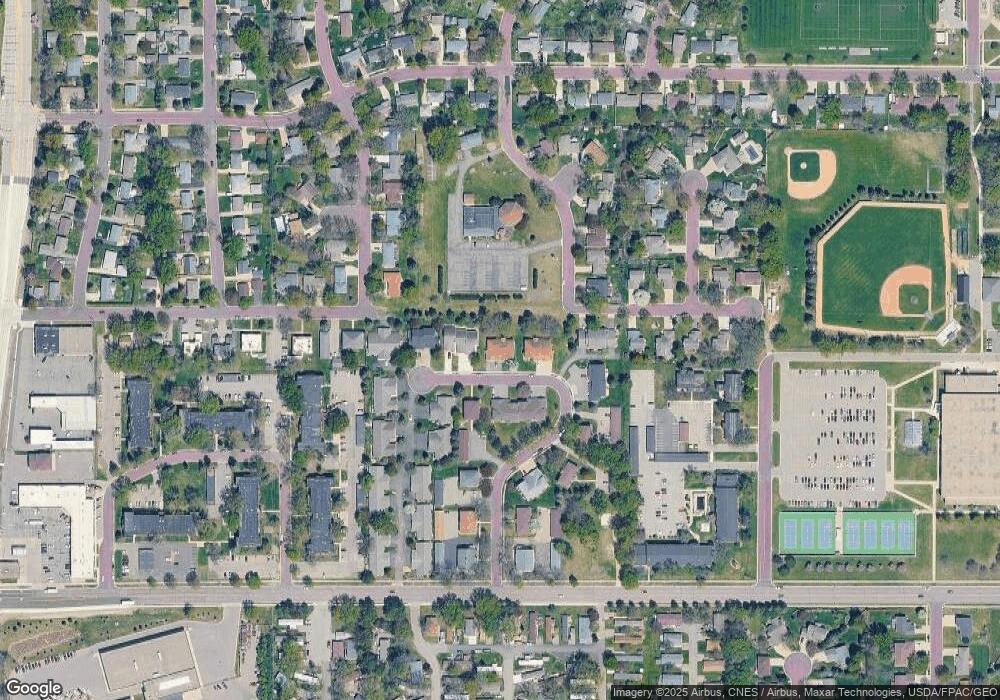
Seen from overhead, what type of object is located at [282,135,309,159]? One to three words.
house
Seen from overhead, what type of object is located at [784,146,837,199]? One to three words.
baseball field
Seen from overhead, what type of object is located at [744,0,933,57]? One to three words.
sports field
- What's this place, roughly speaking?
residential area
